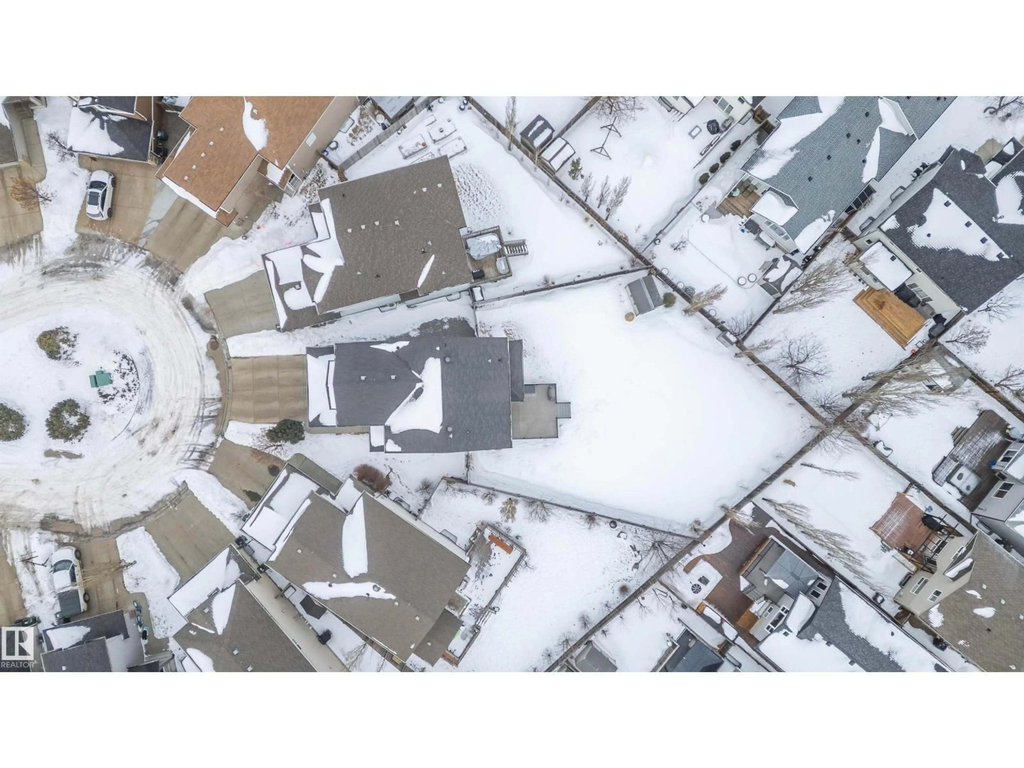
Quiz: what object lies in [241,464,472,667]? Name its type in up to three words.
house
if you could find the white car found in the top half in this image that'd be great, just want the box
[80,170,113,223]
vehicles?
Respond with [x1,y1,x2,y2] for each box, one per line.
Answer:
[80,170,113,223]
[46,545,88,618]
